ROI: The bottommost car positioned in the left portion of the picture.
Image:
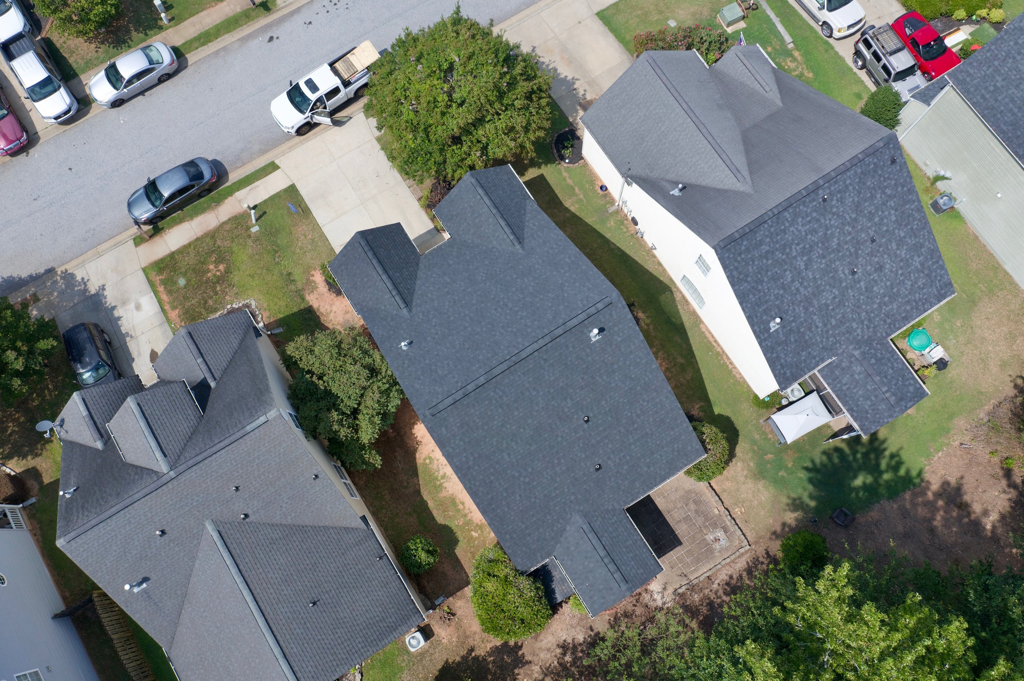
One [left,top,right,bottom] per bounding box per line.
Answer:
[62,320,130,388]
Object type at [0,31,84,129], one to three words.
truck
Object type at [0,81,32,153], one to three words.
car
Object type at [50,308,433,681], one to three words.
house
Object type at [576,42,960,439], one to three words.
house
